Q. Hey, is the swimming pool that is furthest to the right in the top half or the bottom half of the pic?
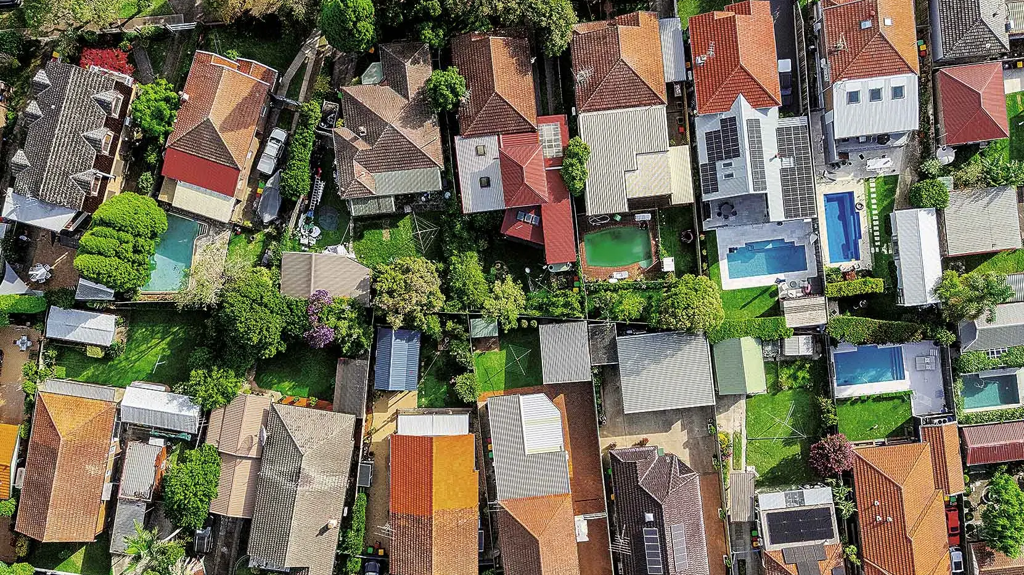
bottom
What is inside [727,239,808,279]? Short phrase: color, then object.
blue swimming pool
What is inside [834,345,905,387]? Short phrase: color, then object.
blue swimming pool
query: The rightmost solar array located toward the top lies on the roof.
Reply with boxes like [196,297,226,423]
[781,125,816,218]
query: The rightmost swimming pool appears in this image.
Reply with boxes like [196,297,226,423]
[961,371,1023,412]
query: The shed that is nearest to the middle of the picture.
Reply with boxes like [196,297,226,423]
[470,318,499,339]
